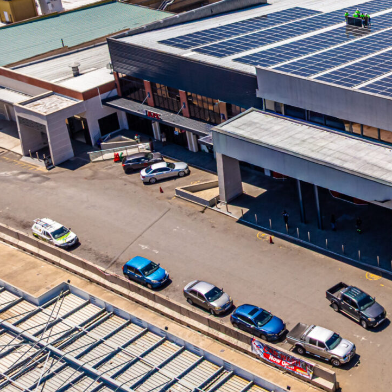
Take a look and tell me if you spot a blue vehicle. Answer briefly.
Yes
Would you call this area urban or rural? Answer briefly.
urban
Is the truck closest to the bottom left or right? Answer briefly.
right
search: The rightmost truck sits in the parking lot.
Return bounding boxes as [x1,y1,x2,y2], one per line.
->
[324,284,387,329]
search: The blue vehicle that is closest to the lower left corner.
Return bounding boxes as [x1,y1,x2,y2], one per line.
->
[122,254,170,289]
